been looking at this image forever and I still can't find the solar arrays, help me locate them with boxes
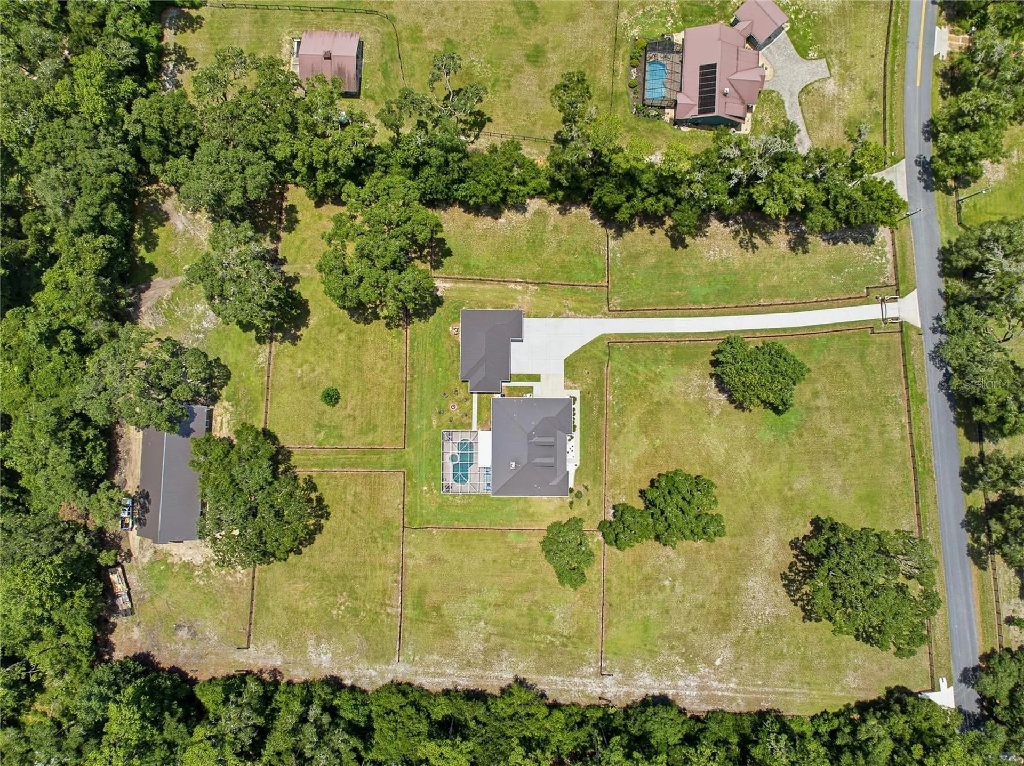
[698,63,716,113]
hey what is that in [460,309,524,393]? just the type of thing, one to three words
building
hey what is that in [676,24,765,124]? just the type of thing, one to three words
house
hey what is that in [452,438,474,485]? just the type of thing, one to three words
swimming pool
